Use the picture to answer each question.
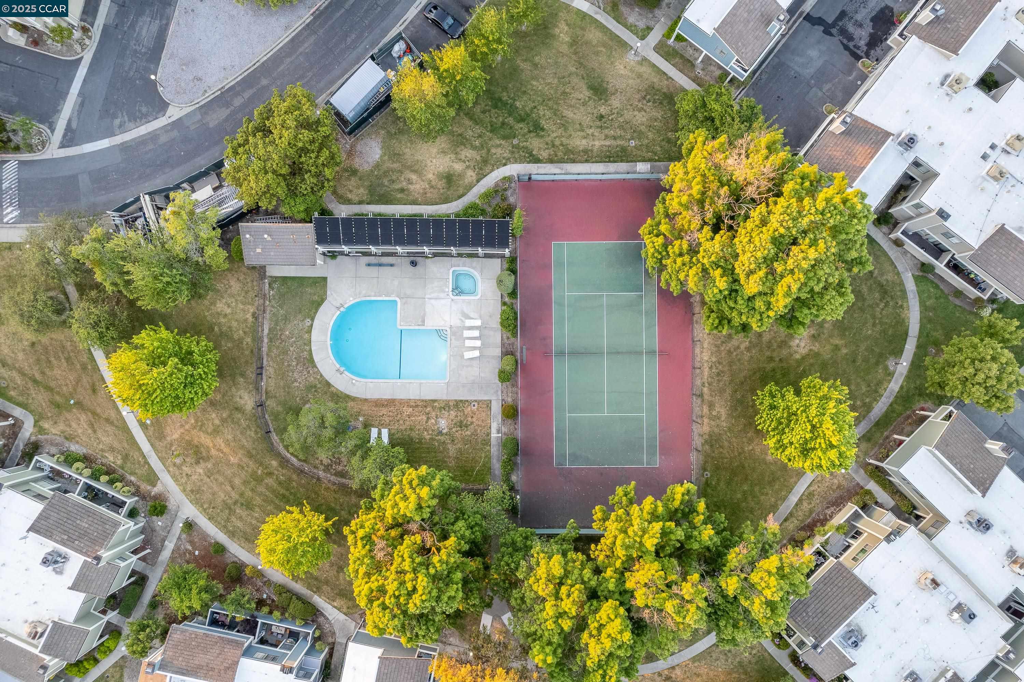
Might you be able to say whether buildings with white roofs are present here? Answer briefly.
Yes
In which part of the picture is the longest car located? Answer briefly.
top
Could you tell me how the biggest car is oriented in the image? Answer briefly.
at an angle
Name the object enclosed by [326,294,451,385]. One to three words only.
swimming pool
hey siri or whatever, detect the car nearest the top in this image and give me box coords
[421,1,466,40]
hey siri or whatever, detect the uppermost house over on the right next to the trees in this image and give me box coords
[671,0,807,93]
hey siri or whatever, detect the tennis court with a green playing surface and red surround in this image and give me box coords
[518,179,693,529]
